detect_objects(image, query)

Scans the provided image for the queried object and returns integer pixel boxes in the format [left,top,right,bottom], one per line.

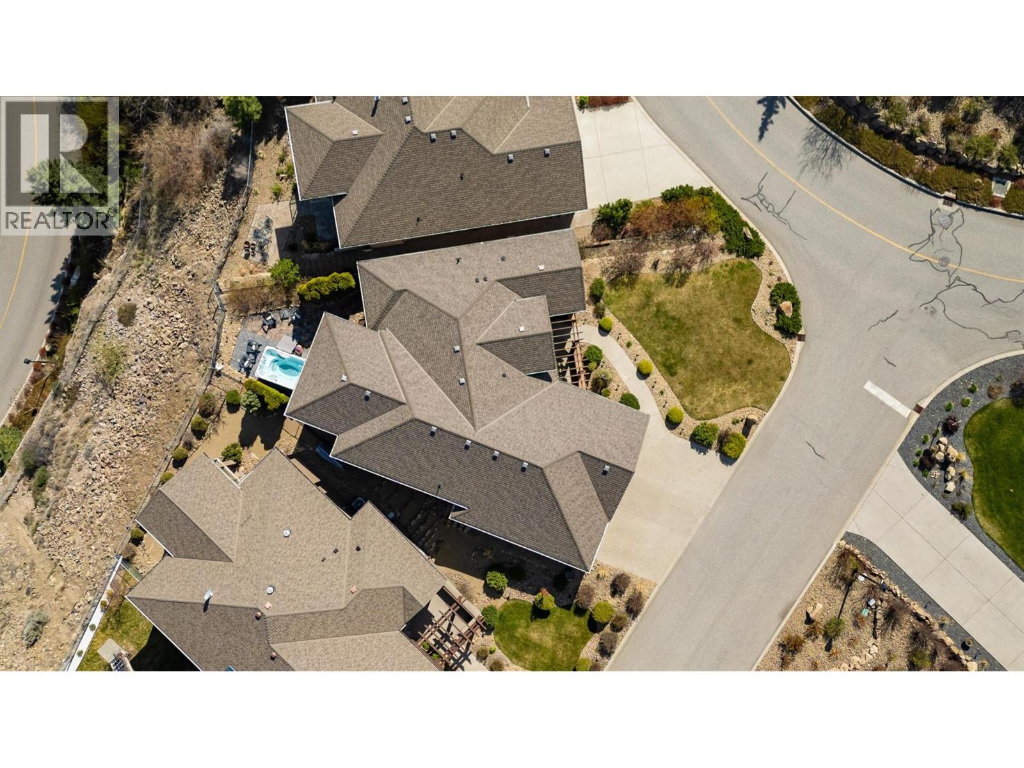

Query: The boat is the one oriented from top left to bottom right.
[316,445,344,469]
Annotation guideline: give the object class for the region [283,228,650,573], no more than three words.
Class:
house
